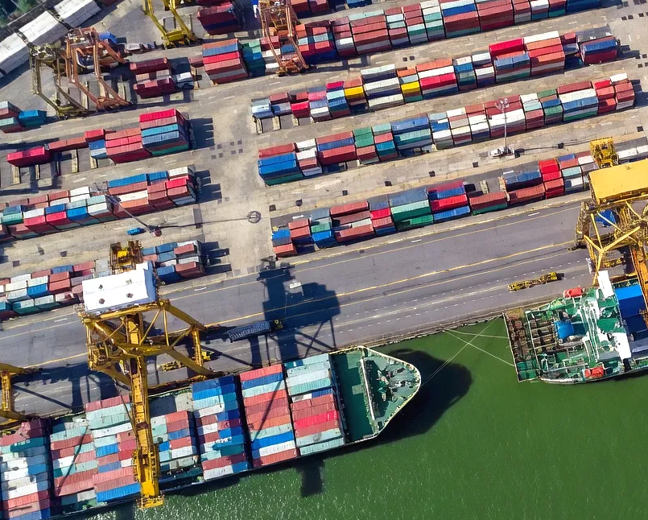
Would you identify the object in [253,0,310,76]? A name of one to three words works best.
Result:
container crane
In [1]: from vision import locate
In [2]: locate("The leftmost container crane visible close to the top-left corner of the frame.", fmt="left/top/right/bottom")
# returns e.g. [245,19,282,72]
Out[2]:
[19,33,91,121]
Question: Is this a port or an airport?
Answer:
port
